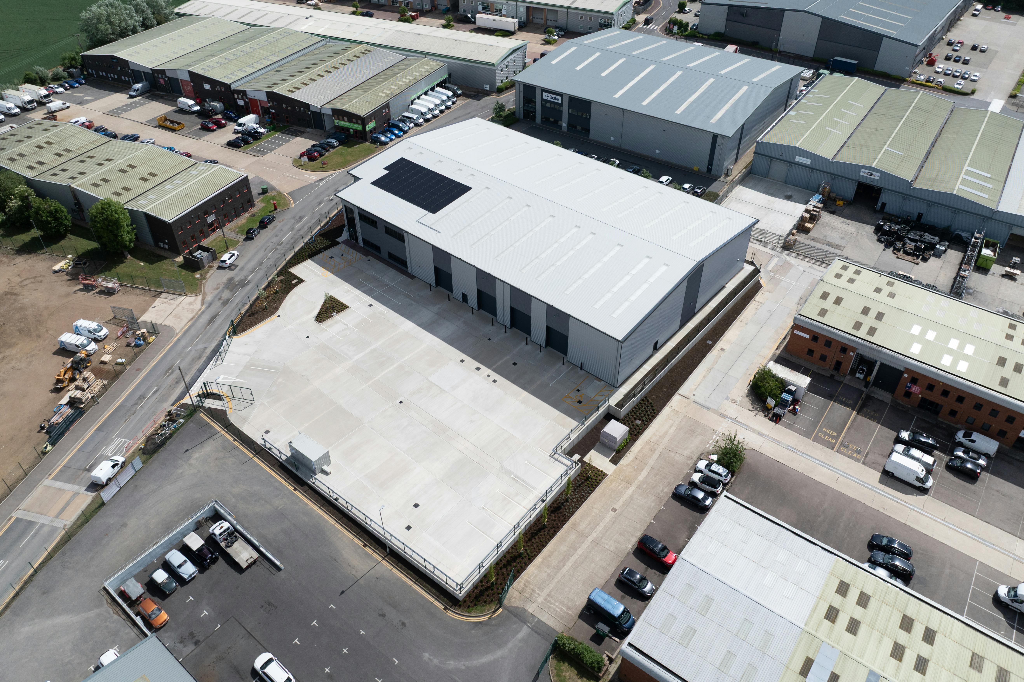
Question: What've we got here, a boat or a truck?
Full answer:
Of the two, only a truck appears.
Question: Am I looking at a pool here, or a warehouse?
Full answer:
The one in the frame is a warehouse.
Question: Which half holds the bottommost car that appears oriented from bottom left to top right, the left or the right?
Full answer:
The bottommost car that appears oriented from bottom left to top right appears in the left half of the scene.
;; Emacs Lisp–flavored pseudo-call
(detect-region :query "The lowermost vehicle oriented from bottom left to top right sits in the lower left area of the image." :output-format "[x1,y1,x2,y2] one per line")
[96,641,122,676]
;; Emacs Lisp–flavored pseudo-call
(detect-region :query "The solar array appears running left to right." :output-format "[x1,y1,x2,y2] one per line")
[370,160,476,214]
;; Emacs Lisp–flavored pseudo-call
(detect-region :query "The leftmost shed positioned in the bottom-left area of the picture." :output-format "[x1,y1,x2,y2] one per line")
[89,632,195,682]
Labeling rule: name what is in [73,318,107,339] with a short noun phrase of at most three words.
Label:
vehicle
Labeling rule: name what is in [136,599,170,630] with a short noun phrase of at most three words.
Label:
car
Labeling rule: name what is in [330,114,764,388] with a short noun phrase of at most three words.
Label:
warehouse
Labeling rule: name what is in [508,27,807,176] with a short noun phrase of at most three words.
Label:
warehouse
